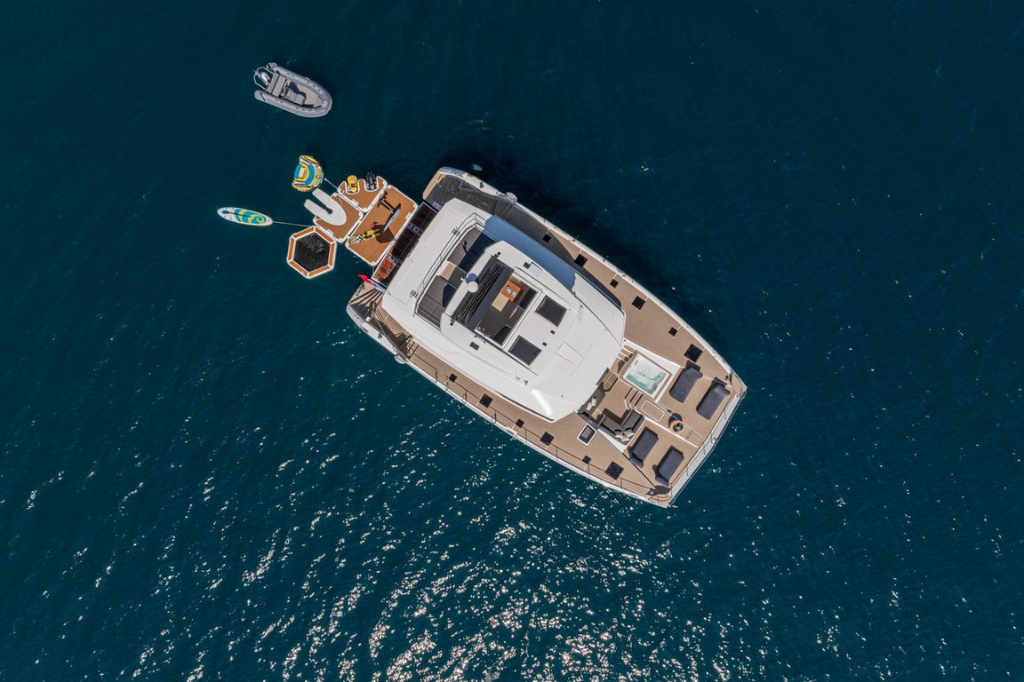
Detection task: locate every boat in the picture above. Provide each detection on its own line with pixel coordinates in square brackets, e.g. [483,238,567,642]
[350,168,749,507]
[253,63,332,119]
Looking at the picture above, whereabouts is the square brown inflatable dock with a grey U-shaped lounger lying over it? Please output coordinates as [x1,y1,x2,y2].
[314,193,363,241]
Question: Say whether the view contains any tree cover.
No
